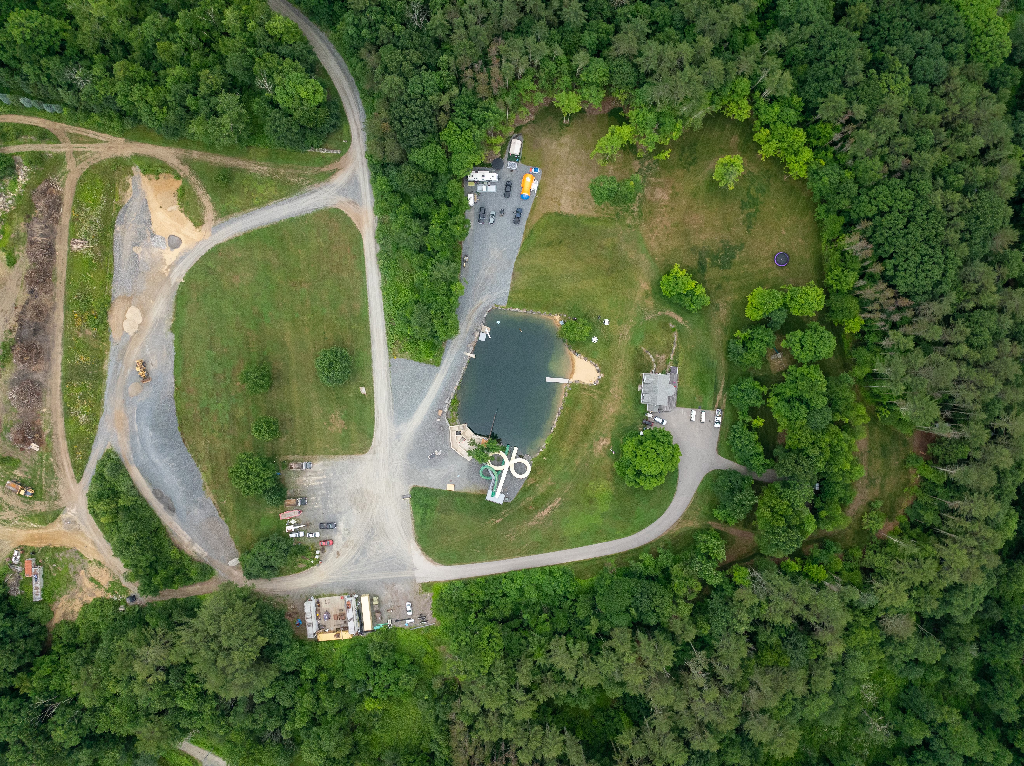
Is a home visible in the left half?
No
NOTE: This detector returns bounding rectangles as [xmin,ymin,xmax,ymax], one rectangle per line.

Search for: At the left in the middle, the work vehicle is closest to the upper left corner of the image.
[135,358,152,382]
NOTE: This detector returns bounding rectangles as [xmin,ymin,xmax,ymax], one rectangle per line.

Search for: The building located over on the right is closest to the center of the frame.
[640,373,679,412]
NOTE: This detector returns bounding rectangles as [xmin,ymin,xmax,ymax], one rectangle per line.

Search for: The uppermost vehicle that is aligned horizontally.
[468,170,501,182]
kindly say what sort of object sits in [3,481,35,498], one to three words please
vehicle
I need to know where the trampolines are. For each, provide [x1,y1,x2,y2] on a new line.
[774,252,789,266]
[491,158,504,170]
